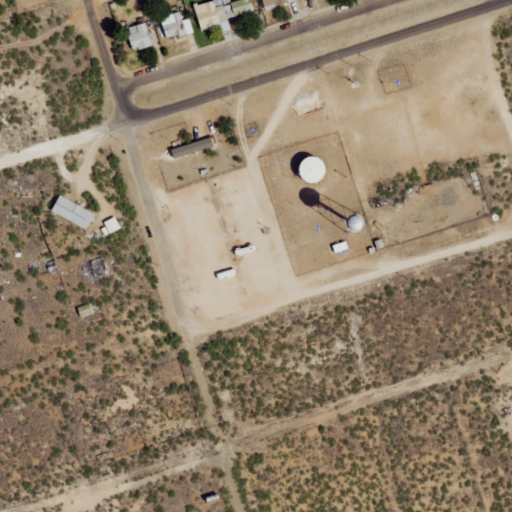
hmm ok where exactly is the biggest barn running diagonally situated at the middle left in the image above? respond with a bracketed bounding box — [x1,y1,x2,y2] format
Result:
[50,194,94,230]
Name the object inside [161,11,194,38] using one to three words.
house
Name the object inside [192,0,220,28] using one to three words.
house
